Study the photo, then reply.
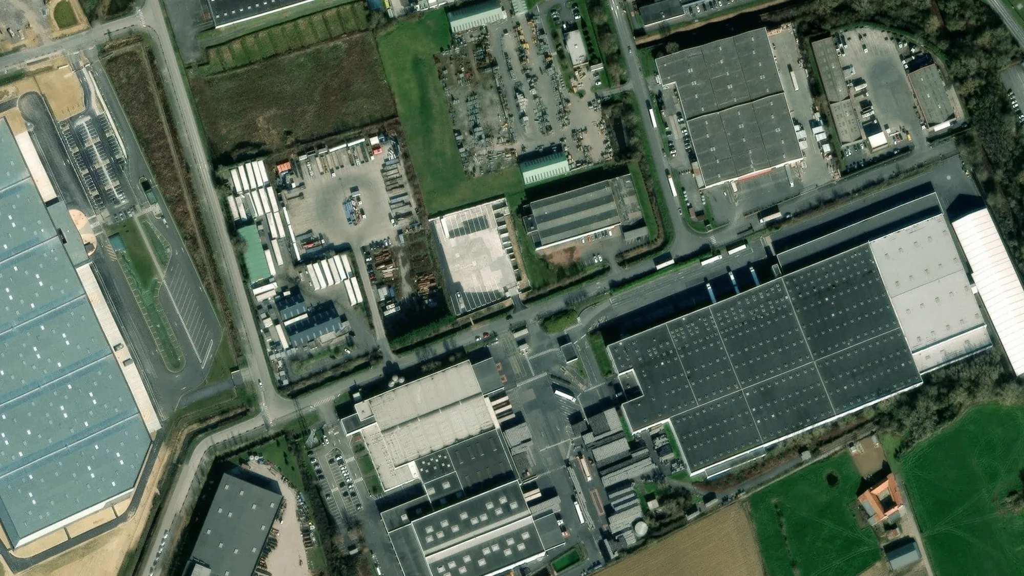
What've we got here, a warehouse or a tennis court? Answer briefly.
warehouse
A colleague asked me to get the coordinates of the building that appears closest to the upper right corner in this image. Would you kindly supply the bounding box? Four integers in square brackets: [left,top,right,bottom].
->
[907,64,956,129]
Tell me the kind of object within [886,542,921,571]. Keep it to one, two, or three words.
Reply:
barn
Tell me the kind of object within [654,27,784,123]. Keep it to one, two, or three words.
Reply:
building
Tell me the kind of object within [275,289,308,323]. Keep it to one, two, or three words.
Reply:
shed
